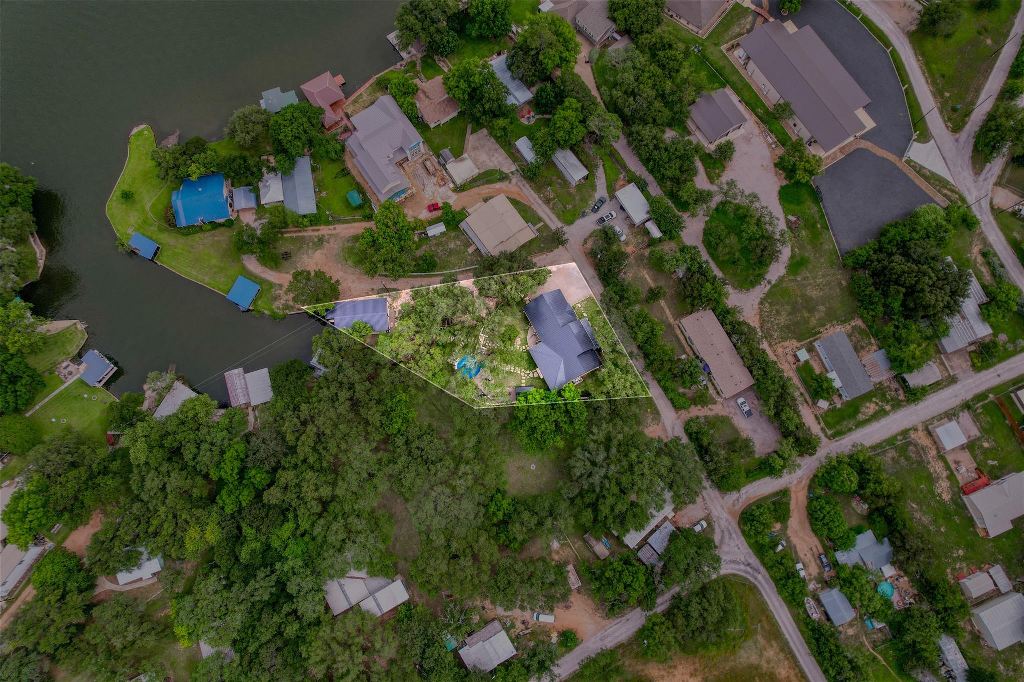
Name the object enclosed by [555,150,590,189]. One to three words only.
building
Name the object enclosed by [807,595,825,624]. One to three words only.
boat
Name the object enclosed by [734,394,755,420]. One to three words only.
truck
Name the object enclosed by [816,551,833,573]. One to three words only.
car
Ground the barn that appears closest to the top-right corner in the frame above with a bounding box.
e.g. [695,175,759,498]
[736,20,872,159]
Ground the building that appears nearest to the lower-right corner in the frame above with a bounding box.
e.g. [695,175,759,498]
[966,590,1024,650]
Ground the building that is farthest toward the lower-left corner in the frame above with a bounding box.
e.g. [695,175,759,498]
[0,541,51,597]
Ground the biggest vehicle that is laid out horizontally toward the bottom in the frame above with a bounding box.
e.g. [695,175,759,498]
[532,612,557,624]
